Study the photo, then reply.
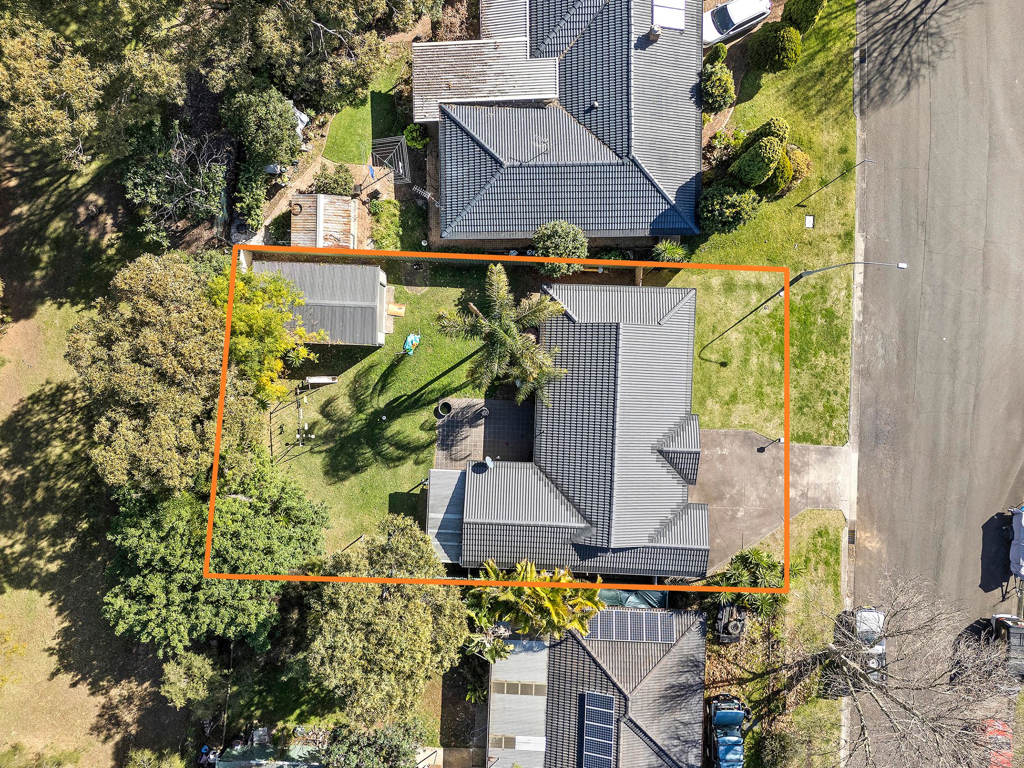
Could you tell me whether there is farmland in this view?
No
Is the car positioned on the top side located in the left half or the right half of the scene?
right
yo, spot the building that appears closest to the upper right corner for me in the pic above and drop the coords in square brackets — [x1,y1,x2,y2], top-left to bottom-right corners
[412,0,703,241]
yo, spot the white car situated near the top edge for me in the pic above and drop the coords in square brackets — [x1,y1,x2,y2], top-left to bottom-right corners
[703,0,776,48]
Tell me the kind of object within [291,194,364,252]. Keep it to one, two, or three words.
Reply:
shed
